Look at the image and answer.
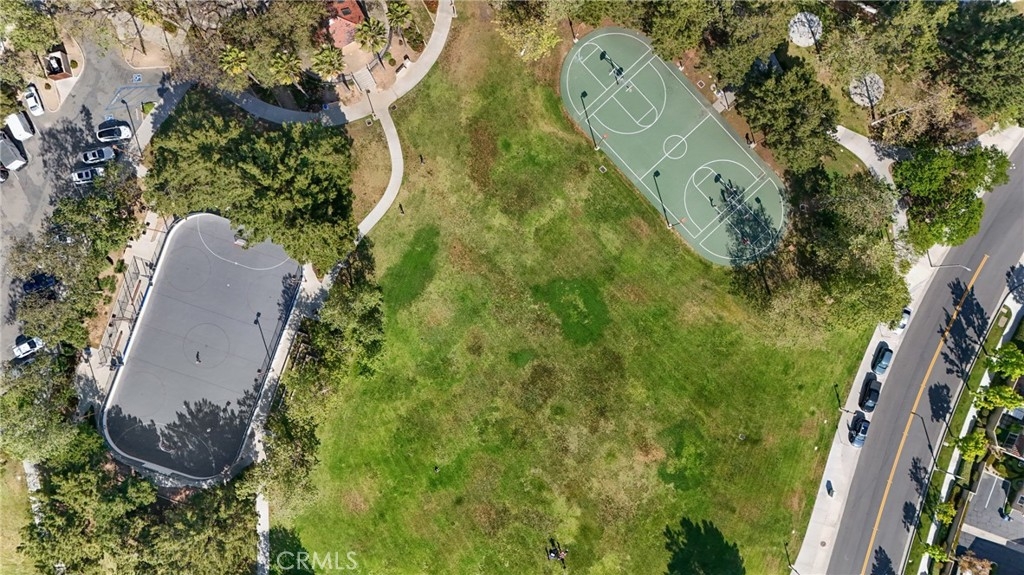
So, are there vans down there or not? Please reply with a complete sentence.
Yes, there is a van in the image.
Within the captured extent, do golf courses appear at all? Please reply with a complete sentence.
No, the photo shows no golf course.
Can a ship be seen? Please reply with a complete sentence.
No, no ship can be seen from above.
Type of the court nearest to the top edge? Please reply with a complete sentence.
The court nearest to the top edge in the image is a basketball court.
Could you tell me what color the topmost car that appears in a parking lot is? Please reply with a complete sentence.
From above, the topmost car that appears in a parking lot appears white.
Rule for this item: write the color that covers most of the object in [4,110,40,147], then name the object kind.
white van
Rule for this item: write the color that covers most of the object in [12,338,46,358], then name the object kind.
white car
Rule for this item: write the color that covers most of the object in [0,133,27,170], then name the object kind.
gray vehicle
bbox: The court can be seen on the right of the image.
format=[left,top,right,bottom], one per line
[559,25,791,268]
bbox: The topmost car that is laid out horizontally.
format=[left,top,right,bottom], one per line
[99,123,132,139]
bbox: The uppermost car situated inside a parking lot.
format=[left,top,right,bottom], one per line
[22,84,44,115]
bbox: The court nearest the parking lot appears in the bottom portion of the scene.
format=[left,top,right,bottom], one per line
[101,209,307,484]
